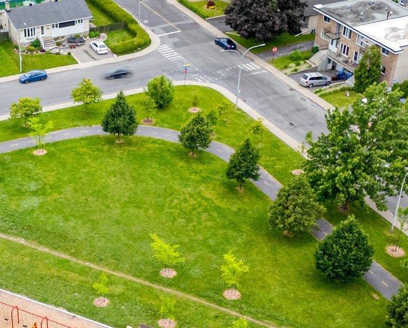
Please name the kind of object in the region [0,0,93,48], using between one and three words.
house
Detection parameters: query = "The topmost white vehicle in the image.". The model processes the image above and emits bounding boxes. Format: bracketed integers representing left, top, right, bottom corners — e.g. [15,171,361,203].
[89,40,109,55]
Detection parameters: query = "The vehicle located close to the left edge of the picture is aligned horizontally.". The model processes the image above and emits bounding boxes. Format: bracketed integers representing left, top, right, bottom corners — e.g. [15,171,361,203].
[18,68,49,83]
